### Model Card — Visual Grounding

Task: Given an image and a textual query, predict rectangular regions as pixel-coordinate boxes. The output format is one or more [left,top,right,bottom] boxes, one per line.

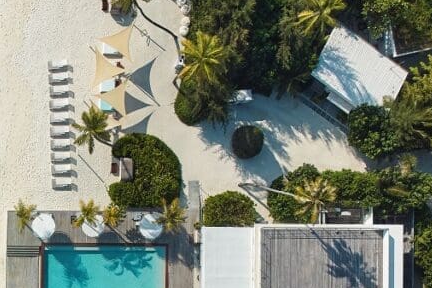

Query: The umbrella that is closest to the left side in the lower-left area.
[31,214,56,239]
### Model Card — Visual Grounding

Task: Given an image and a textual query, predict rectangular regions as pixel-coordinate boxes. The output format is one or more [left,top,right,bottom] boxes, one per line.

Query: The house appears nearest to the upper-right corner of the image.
[285,27,413,135]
